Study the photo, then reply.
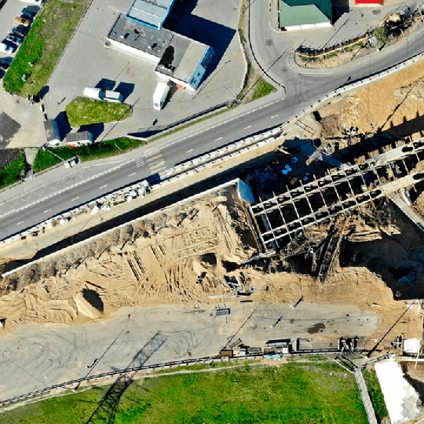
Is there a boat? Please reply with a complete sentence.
No, the scene contains no boat.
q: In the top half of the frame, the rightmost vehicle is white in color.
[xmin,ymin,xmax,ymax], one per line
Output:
[153,82,171,113]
